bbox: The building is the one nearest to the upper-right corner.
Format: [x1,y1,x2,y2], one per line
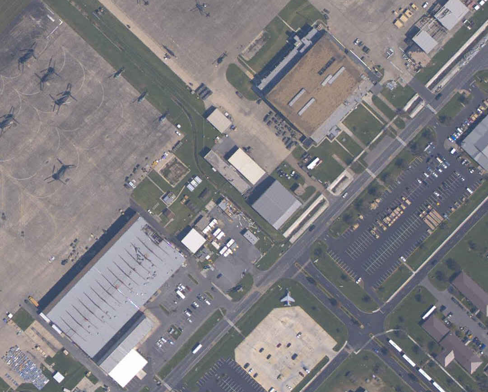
[435,0,470,30]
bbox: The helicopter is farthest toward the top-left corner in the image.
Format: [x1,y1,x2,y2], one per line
[13,44,38,72]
